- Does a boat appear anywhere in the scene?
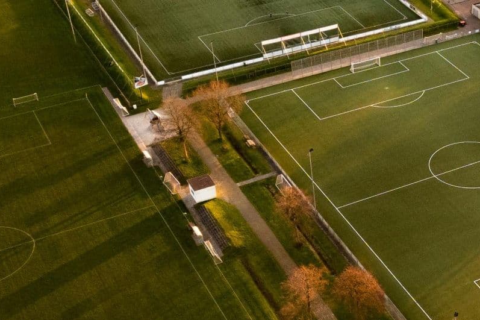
No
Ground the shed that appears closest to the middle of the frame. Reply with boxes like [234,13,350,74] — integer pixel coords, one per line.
[185,172,217,202]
